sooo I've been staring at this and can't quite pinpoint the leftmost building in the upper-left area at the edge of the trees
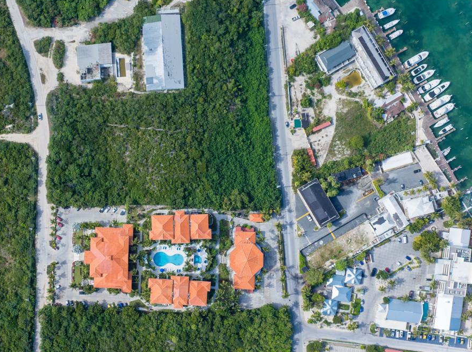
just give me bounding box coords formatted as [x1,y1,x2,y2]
[77,43,113,81]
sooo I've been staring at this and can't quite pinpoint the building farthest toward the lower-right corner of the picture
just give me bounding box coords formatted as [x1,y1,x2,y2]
[429,294,464,331]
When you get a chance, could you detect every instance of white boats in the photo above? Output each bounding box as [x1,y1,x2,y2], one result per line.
[432,103,454,118]
[423,82,449,101]
[382,20,399,30]
[389,30,402,40]
[402,51,429,69]
[439,124,453,134]
[433,117,450,128]
[418,79,441,94]
[376,8,396,20]
[428,96,451,110]
[413,70,436,84]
